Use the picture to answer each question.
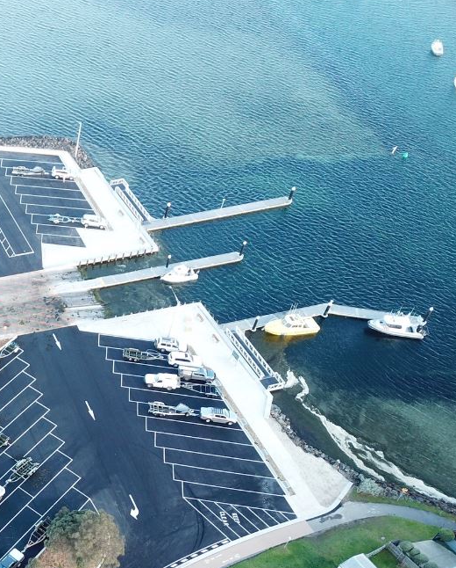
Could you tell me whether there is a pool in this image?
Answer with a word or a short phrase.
No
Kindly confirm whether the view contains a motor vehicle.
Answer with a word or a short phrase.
Yes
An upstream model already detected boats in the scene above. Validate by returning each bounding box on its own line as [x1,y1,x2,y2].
[431,39,443,58]
[368,313,428,339]
[161,262,199,285]
[266,308,322,335]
